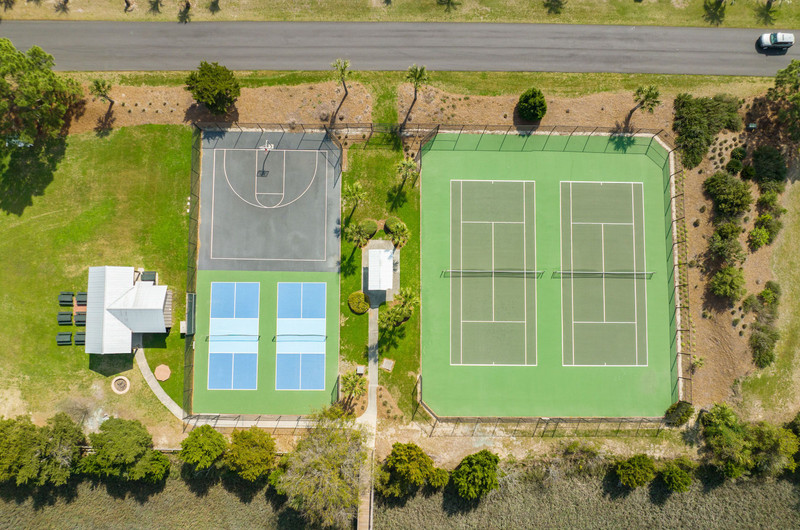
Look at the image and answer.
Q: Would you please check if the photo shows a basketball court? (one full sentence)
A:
Yes, the frame does contain a basketball court.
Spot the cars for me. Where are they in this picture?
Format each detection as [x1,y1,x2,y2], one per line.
[759,32,795,50]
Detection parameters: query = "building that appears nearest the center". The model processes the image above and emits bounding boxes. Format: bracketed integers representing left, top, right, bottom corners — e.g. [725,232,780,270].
[362,241,400,301]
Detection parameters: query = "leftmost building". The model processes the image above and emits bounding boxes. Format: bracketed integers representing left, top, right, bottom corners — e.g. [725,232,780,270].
[85,266,173,354]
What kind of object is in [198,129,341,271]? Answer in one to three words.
basketball court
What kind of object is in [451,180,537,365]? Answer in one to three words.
tennis court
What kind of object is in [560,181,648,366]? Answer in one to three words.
tennis court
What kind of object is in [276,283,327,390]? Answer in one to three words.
sports court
